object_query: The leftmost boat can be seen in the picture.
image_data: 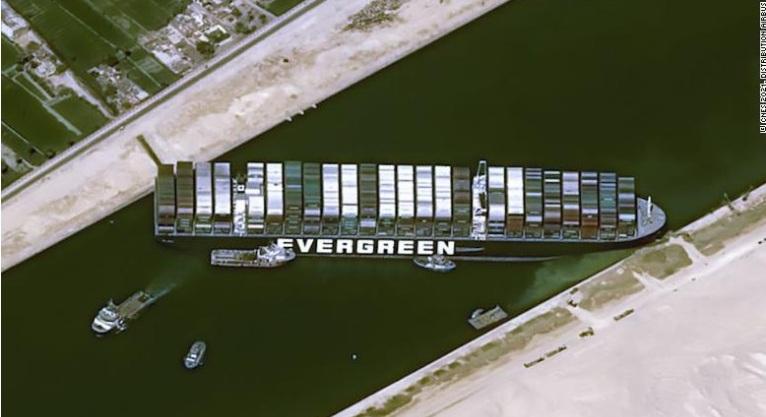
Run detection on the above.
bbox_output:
[94,288,153,329]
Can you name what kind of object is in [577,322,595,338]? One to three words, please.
work vehicle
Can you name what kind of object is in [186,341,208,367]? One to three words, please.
boat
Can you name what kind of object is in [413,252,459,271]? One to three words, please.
boat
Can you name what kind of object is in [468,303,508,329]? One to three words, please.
ship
